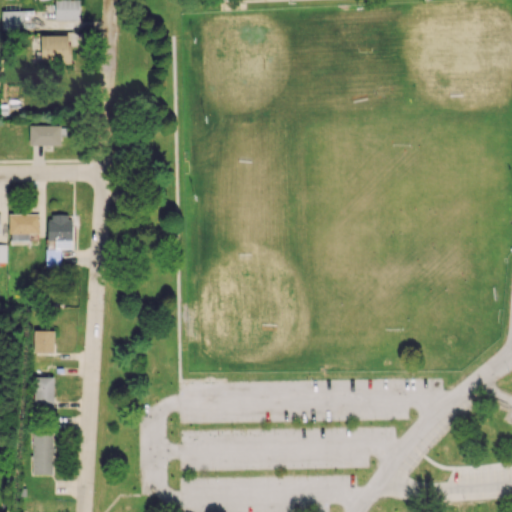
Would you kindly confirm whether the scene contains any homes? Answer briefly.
Yes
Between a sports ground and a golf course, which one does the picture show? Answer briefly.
sports ground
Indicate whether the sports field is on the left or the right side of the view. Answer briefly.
right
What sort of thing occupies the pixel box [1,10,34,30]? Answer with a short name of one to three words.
shed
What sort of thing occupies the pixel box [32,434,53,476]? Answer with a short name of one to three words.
house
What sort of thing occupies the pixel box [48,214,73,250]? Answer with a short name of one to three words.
house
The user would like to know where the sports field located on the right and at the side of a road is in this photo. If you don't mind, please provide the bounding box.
[183,0,512,372]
